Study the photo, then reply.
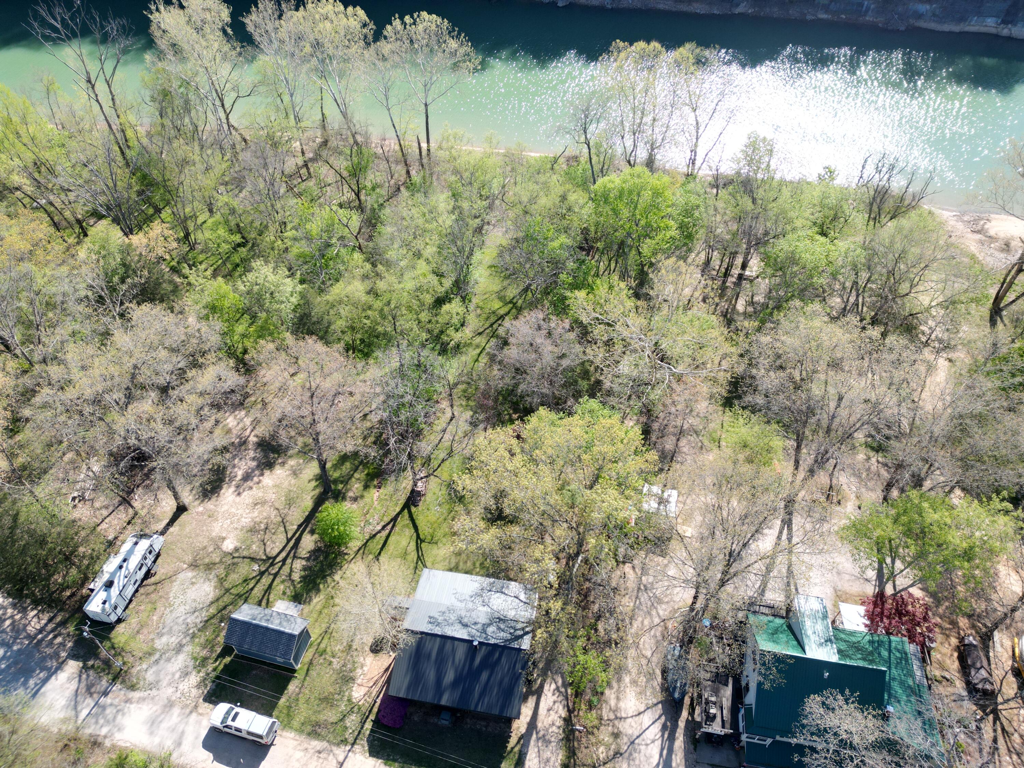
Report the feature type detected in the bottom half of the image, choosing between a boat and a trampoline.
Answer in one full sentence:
Visible in the bottom half of the image is a boat.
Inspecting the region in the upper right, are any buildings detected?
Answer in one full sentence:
No, no building is visible in the upper right.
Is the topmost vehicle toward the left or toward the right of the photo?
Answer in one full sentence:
The topmost vehicle sits on the left side.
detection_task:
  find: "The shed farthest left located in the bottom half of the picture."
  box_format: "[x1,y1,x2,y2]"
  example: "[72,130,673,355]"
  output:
[222,603,312,668]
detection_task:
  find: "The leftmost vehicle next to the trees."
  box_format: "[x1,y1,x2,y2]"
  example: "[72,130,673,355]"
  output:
[84,532,165,629]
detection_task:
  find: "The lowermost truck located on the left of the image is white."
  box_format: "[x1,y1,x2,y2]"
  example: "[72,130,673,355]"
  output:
[204,702,283,748]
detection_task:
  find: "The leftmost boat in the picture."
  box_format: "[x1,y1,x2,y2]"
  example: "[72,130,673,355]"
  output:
[661,638,687,716]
